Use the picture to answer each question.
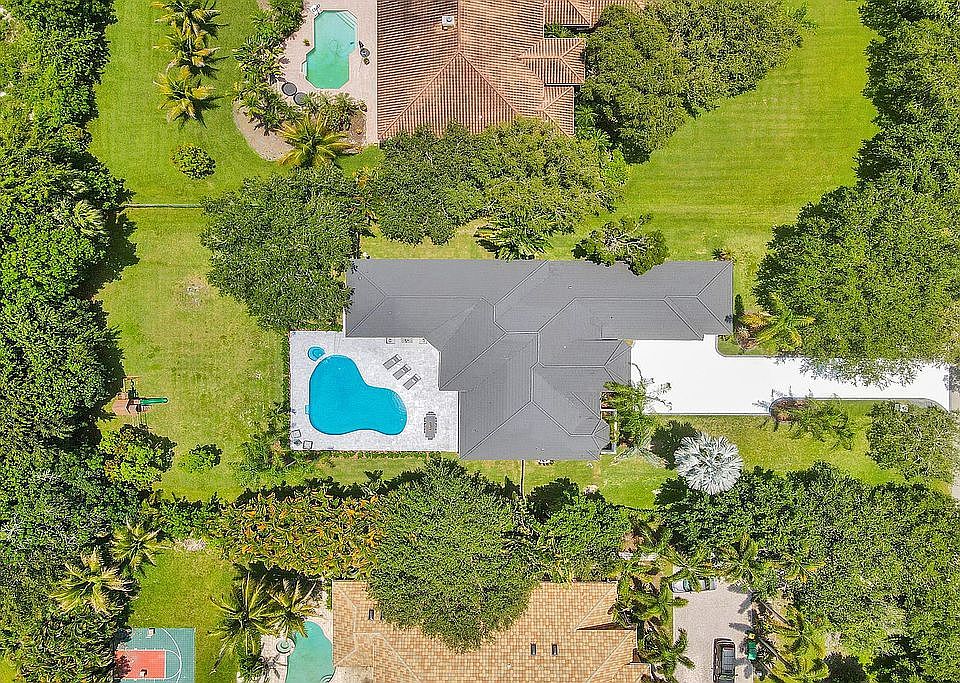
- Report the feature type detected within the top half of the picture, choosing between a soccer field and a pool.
pool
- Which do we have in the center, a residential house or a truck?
residential house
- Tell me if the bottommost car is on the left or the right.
right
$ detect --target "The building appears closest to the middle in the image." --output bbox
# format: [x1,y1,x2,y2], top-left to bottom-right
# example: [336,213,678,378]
[346,259,733,461]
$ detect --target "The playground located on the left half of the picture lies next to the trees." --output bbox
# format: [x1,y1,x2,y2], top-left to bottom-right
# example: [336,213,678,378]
[111,375,167,433]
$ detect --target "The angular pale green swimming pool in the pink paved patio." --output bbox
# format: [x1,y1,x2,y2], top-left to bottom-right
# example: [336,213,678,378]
[302,7,359,90]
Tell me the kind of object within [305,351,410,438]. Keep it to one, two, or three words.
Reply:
swimming pool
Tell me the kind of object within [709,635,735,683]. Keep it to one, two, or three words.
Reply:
car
